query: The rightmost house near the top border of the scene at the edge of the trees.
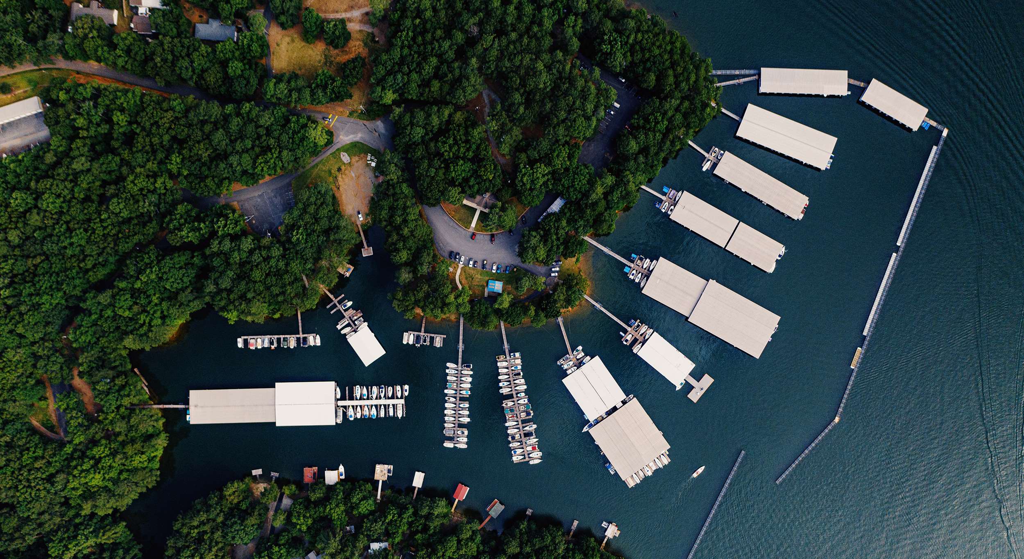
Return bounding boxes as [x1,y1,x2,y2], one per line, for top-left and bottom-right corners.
[194,18,238,42]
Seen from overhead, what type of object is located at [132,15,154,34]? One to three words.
house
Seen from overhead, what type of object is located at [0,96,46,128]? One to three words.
building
